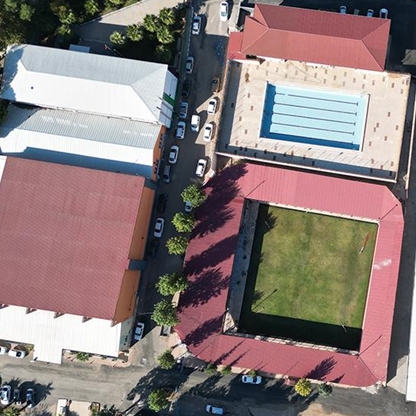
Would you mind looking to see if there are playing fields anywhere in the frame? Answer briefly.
Yes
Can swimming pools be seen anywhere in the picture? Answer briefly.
Yes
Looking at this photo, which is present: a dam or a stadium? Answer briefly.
stadium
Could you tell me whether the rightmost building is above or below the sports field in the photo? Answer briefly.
above it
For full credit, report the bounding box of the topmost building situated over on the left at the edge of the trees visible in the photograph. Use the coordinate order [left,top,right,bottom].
[1,45,177,129]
